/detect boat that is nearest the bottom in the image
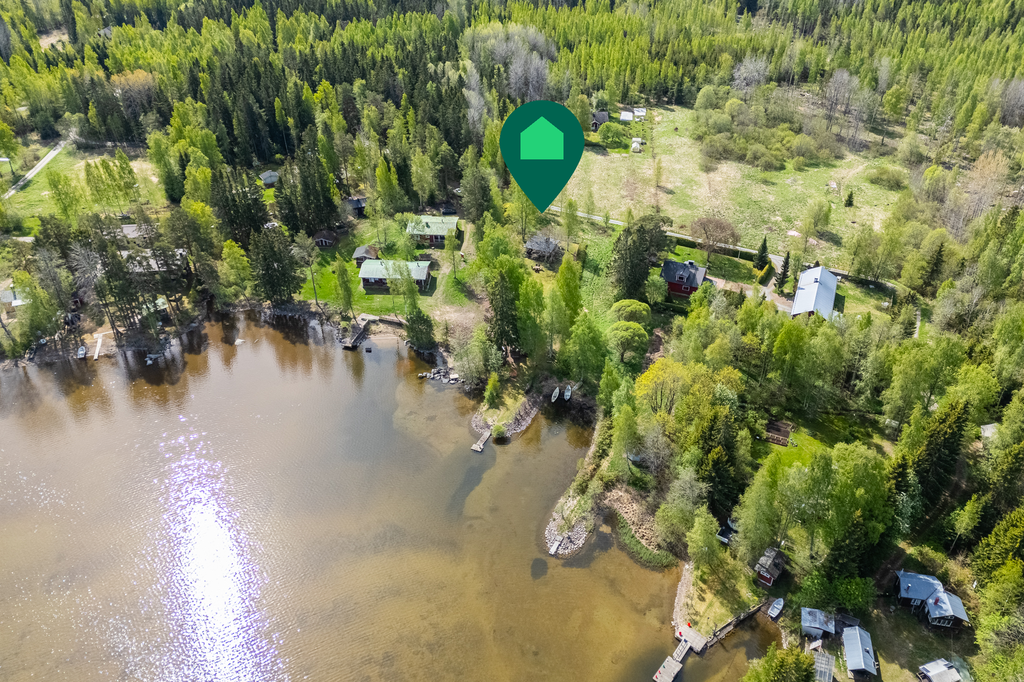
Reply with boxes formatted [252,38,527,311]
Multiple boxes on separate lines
[768,597,783,620]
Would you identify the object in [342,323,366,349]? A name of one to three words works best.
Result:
pier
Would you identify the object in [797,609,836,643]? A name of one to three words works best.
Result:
shed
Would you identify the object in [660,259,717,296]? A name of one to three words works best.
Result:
house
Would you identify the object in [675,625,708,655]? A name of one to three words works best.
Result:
pier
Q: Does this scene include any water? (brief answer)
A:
Yes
